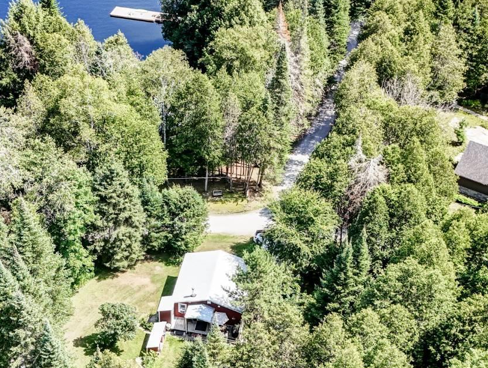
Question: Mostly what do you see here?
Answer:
trees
